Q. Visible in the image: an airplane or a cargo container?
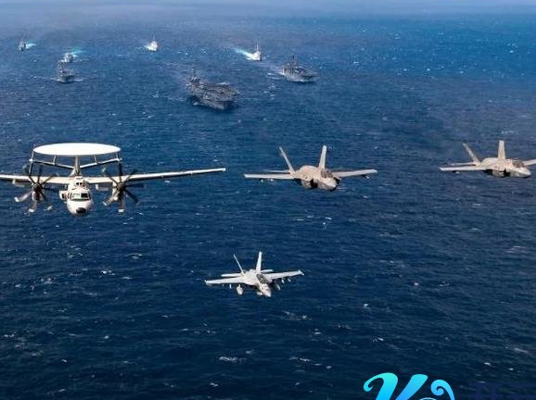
airplane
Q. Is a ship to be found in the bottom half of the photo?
No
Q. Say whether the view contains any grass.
No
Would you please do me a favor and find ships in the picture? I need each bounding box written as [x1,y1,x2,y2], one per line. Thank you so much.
[245,48,261,60]
[64,47,73,62]
[278,55,321,82]
[146,38,156,49]
[185,69,237,111]
[57,55,73,82]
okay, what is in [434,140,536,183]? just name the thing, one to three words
airplane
